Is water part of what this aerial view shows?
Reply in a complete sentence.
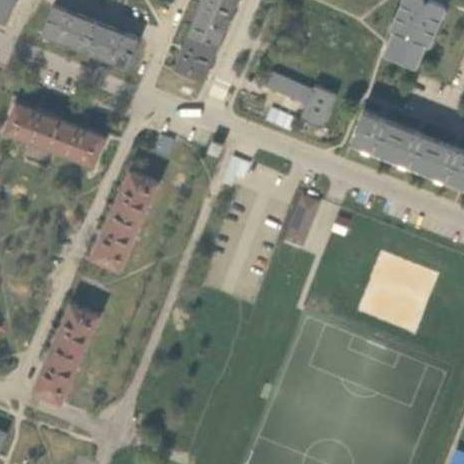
No, no water is visible.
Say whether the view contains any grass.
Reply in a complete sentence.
Yes, the picture does contain grass.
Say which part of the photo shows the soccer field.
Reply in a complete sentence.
The soccer field appears toward the bottom right of the photo.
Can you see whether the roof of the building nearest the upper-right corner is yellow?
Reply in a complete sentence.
No, the color of the roof of the building nearest the upper-right corner is gray.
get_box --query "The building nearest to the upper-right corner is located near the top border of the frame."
[383,0,446,74]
